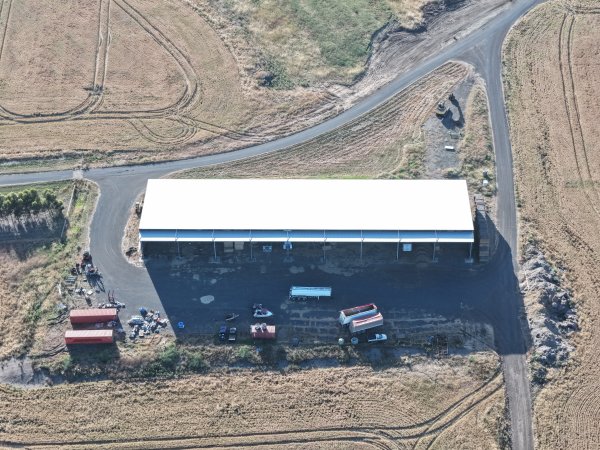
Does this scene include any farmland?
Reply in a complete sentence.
Yes, there's farmland in this view.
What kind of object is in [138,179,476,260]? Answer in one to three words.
shed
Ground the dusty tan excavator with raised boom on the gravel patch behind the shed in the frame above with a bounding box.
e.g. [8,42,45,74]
[434,90,456,117]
